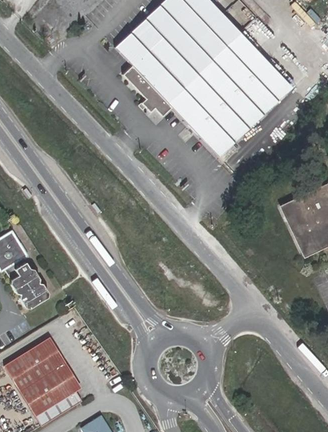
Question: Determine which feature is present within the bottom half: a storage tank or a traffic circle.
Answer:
traffic circle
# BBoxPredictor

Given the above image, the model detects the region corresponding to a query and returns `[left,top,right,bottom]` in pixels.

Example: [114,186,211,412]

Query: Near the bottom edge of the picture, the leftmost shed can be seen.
[4,336,88,424]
